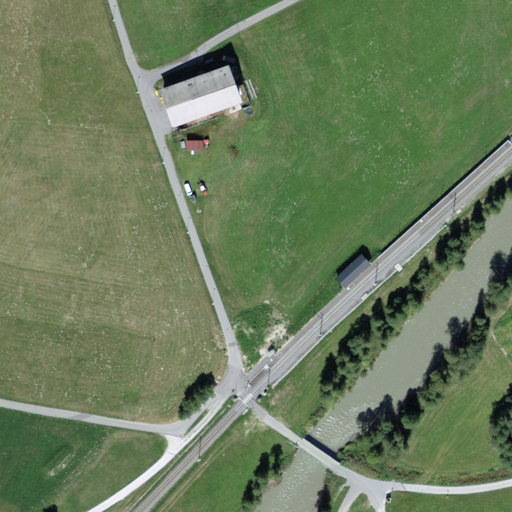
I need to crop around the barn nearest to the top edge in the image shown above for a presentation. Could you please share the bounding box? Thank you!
[160,66,242,127]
